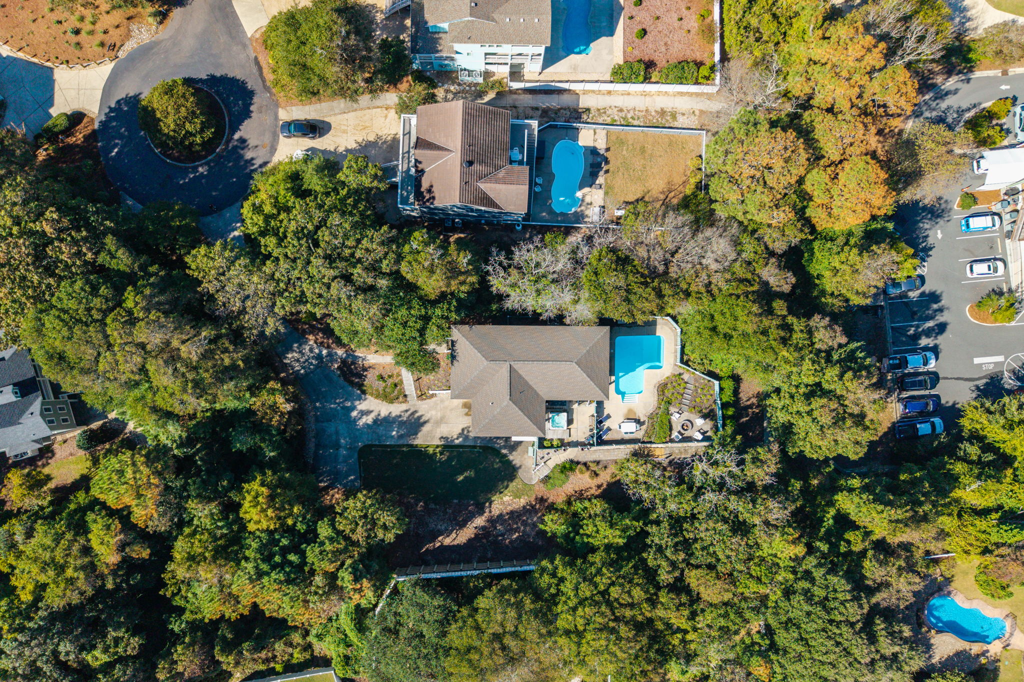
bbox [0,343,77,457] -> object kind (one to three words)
house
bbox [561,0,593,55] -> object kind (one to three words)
swimming pool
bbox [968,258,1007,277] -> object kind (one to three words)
car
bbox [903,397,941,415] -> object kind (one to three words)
car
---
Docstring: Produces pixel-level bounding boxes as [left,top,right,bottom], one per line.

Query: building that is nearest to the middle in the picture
[448,325,610,441]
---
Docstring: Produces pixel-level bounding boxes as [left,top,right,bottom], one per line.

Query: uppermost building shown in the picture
[410,0,551,72]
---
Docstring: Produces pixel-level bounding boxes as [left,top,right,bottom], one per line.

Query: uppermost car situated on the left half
[279,118,319,138]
